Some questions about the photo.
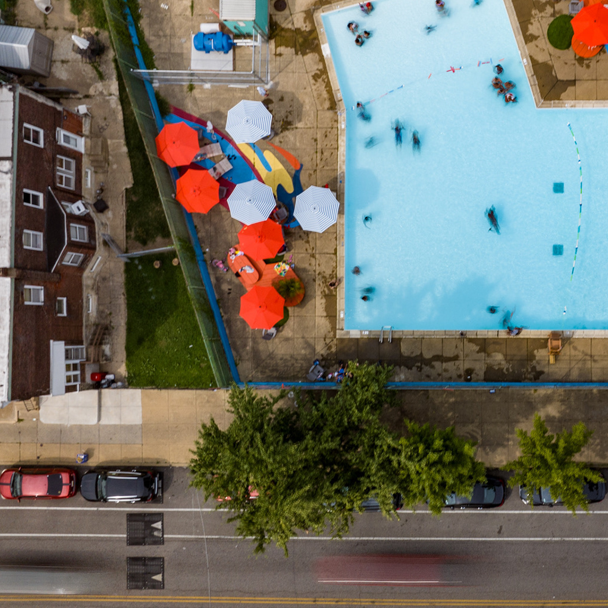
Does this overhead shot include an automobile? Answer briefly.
Yes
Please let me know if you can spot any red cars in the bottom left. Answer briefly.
Yes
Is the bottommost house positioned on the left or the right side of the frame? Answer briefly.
left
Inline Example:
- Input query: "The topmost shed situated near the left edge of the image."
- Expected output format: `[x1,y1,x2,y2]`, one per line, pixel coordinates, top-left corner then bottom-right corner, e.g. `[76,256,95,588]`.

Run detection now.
[0,29,54,78]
